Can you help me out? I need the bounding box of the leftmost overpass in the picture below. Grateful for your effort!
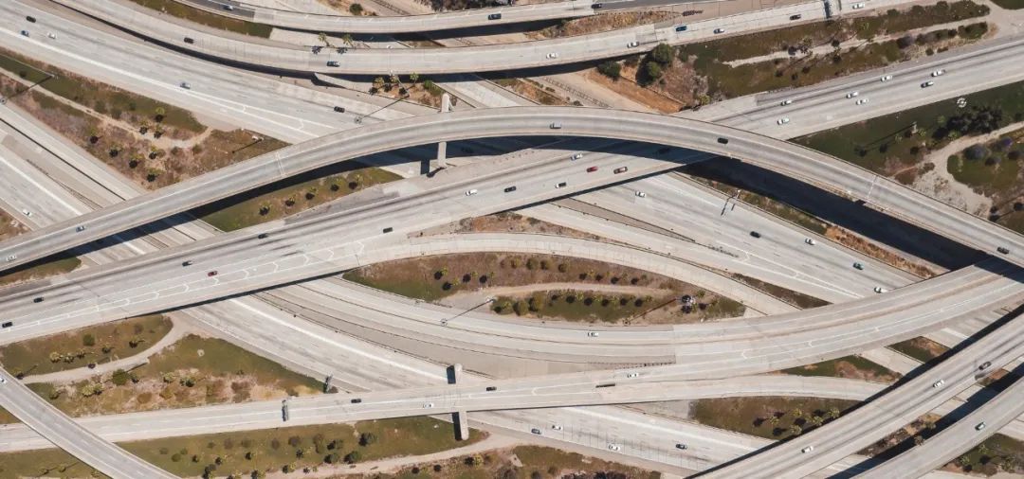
[0,364,181,479]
